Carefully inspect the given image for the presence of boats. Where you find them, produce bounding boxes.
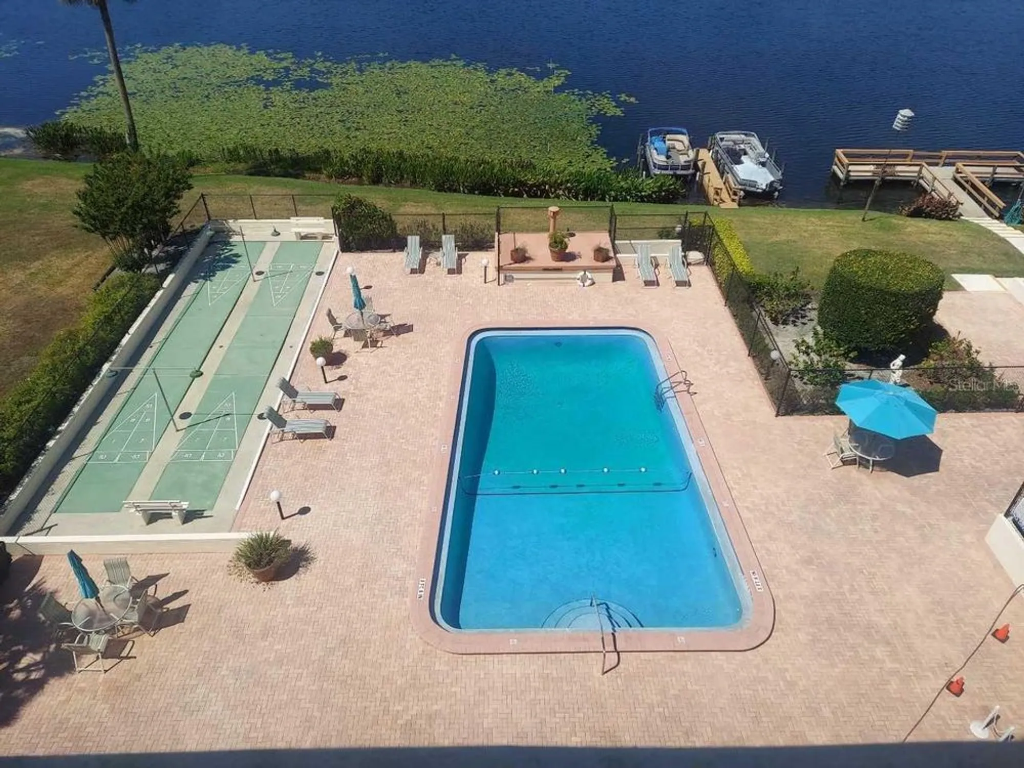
[643,120,697,180]
[700,130,788,196]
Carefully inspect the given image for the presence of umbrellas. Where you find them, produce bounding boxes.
[62,549,124,637]
[833,378,939,468]
[350,272,369,330]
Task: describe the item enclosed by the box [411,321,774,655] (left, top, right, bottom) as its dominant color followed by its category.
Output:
blue swimming pool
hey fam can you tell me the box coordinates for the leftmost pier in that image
[691,145,739,205]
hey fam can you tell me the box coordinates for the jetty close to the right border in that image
[826,147,1024,227]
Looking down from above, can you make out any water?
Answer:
Yes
